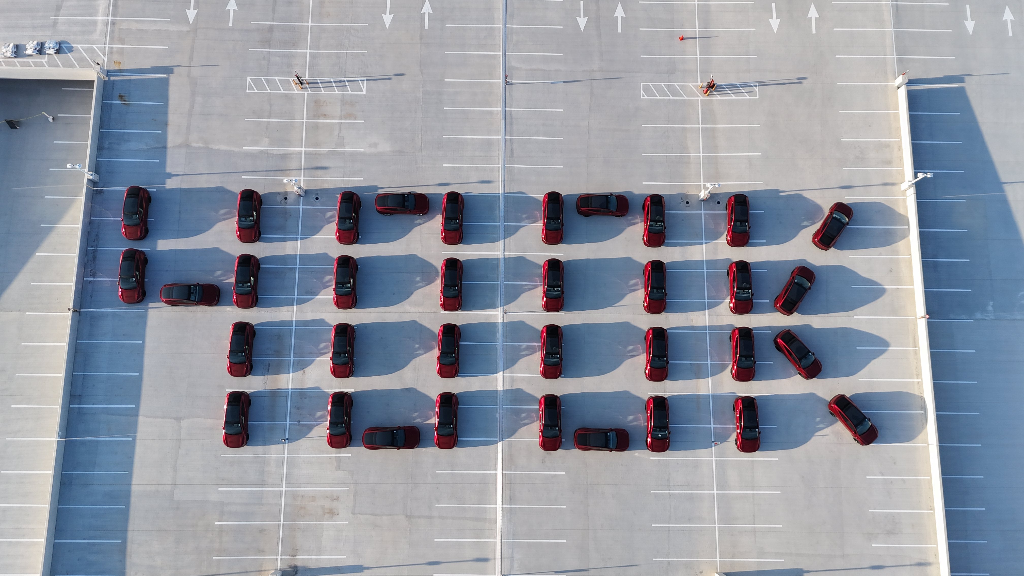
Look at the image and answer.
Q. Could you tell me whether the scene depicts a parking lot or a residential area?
parking lot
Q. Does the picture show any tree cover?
No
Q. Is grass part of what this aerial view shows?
No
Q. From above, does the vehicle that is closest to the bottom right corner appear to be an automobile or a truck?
automobile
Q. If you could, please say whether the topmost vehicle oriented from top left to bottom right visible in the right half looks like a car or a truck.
car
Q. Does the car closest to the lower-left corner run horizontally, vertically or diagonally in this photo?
vertically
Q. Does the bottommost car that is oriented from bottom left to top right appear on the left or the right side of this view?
right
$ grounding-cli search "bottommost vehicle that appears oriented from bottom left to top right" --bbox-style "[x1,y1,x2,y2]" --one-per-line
[773,266,817,316]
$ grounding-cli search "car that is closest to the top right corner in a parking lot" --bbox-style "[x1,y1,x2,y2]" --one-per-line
[811,201,855,251]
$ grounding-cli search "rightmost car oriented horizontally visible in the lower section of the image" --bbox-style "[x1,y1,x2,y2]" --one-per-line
[574,427,629,453]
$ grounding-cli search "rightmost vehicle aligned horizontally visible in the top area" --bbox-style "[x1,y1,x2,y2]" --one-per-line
[576,192,629,217]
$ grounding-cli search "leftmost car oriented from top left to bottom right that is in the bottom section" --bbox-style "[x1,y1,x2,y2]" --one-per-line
[773,329,823,380]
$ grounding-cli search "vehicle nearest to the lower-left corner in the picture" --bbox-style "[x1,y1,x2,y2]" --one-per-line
[220,391,251,448]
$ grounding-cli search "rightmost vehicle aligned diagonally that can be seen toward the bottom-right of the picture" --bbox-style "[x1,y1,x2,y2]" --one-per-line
[828,394,879,446]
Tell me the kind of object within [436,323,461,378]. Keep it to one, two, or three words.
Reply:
car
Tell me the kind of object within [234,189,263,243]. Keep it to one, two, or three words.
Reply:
car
